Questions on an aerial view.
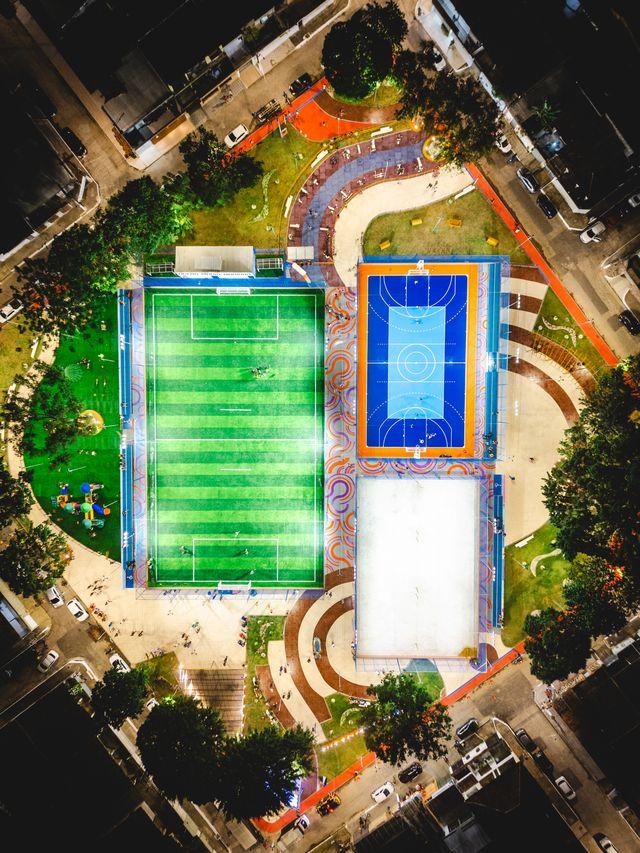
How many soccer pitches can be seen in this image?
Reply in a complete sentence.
I count 1 soccer pitch.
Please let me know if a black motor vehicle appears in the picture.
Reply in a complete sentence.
Yes, there's a black motor vehicle down there.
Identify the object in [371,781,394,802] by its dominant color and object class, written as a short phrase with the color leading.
white car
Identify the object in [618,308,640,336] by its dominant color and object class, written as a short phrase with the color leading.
black car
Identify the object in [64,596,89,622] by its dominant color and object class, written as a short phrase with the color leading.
white car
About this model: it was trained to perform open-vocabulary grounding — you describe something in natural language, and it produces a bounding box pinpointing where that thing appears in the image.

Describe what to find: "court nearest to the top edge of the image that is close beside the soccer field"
[358,264,478,458]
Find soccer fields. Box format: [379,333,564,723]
[145,288,325,589]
